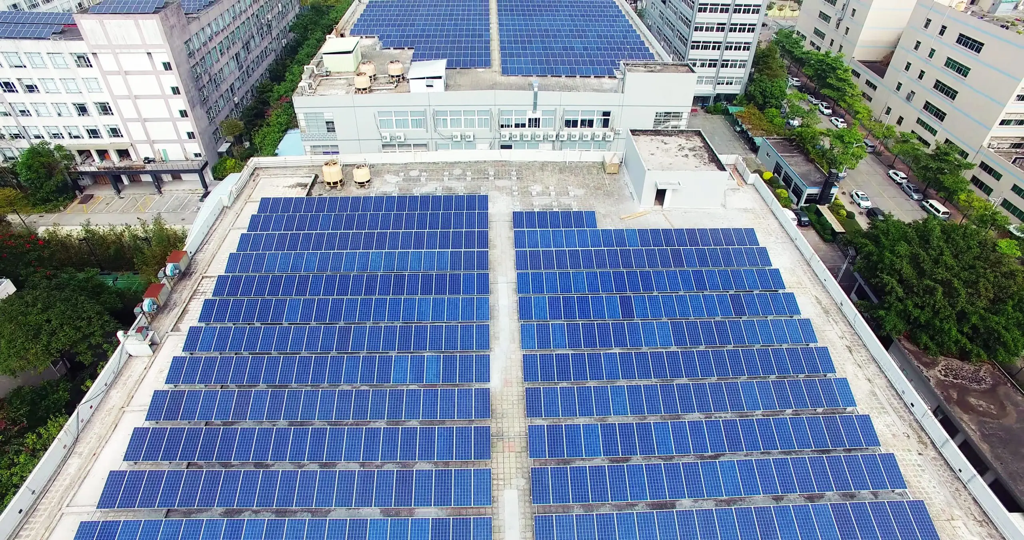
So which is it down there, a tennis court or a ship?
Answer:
tennis court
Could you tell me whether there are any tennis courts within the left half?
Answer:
Yes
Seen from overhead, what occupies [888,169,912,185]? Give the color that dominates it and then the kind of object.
white car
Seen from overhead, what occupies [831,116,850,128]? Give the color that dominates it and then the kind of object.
white vehicle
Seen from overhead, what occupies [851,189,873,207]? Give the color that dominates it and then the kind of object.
white car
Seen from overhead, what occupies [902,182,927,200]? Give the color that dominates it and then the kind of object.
gray car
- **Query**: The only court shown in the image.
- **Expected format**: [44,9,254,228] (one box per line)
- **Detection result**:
[18,269,156,312]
